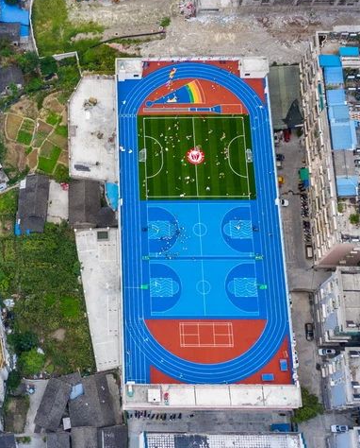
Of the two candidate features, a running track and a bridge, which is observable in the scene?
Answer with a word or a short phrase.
running track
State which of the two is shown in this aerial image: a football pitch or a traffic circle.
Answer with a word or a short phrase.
football pitch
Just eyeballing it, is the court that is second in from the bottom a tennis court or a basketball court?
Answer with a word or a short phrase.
basketball court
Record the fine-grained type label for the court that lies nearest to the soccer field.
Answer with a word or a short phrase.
basketball court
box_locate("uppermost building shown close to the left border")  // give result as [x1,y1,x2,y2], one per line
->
[0,23,19,48]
